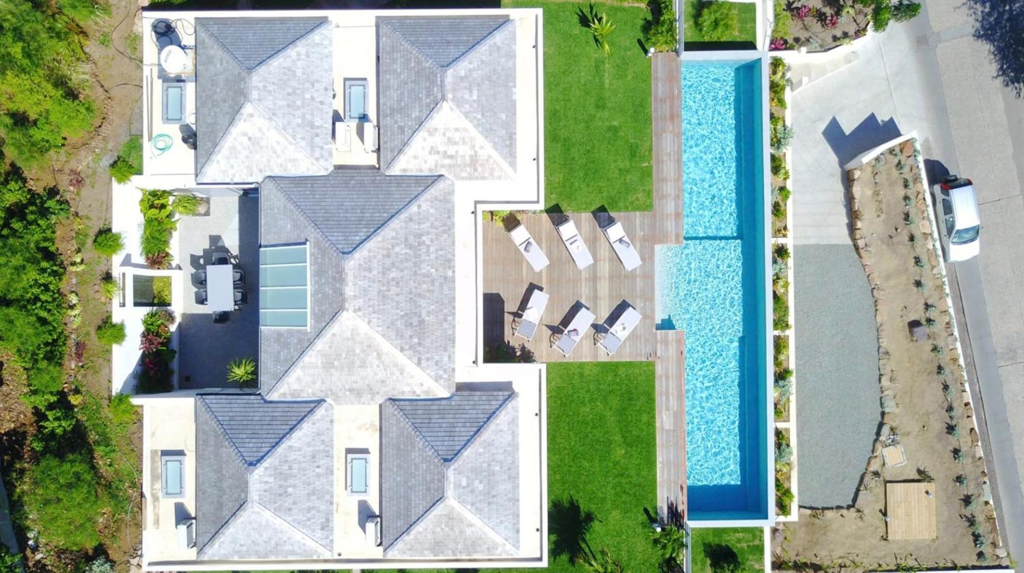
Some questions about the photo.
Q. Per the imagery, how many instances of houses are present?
1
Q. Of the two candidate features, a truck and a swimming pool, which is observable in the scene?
swimming pool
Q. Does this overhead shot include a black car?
No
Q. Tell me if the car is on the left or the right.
right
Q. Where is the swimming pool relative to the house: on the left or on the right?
right of it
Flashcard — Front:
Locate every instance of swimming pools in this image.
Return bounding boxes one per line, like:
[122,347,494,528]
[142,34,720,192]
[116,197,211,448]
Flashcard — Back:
[675,47,777,531]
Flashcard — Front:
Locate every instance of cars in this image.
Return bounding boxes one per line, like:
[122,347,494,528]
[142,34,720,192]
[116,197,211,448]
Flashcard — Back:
[936,178,986,262]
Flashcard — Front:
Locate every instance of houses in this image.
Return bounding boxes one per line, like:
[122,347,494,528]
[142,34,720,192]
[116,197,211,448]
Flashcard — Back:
[141,7,548,570]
